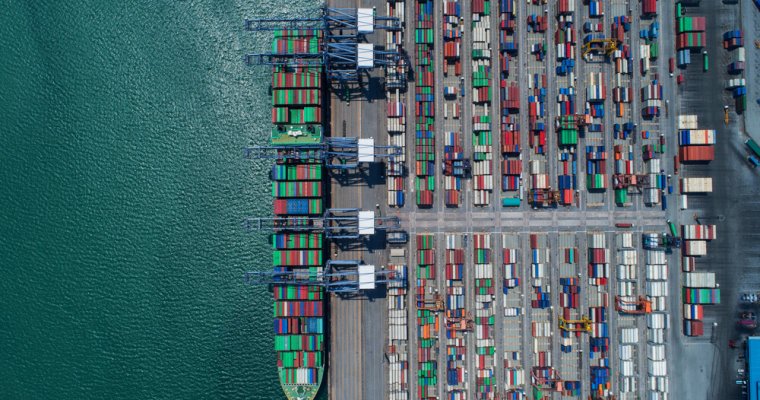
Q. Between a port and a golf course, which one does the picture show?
port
